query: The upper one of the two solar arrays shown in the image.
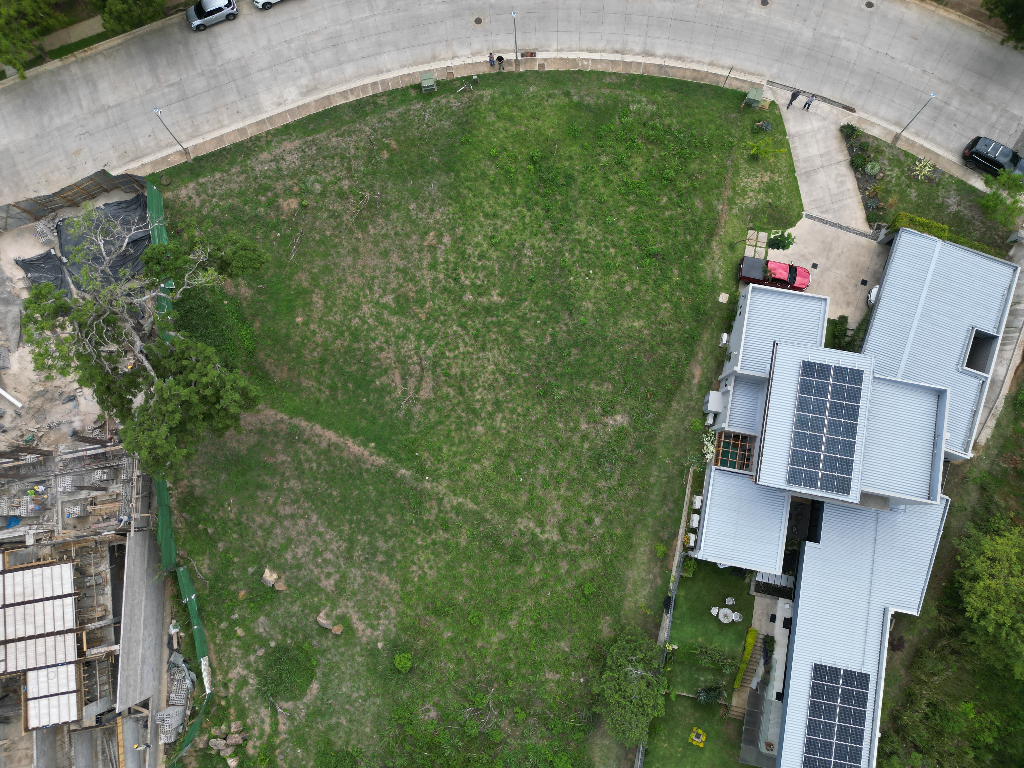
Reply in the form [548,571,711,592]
[787,355,864,498]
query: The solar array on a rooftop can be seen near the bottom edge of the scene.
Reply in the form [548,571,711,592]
[801,657,870,768]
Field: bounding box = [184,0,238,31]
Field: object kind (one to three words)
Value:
car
